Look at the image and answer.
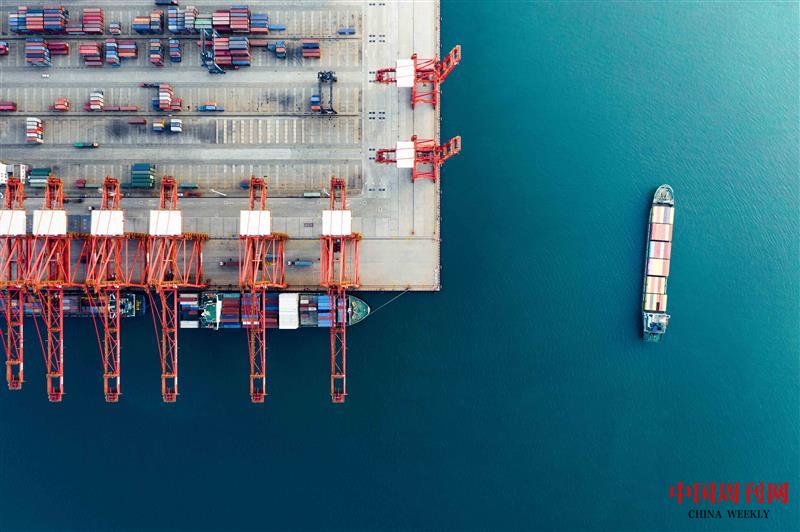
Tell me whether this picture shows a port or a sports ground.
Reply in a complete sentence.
This image shows a port.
